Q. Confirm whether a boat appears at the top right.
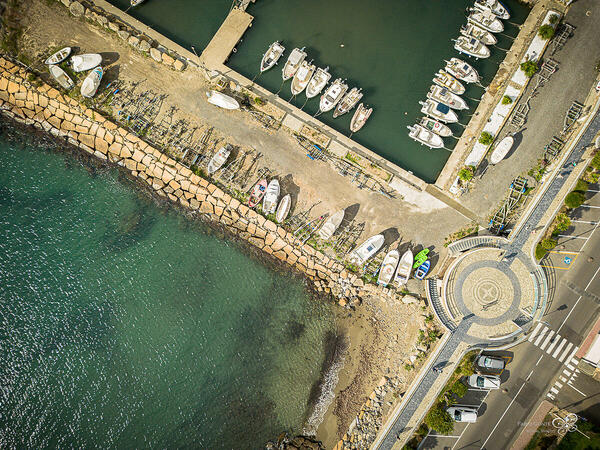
Yes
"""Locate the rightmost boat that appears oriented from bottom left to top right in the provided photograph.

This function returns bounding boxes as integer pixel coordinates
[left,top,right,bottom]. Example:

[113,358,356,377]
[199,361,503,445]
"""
[480,137,516,173]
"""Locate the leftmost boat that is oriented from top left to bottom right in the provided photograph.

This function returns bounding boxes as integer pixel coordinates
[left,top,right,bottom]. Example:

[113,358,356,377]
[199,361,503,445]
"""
[50,64,79,93]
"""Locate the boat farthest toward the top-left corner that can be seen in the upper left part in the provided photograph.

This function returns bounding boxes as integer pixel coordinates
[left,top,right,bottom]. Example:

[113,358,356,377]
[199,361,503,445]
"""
[44,48,73,65]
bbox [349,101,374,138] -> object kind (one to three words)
boat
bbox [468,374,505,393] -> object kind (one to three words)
car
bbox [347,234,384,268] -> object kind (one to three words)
boat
